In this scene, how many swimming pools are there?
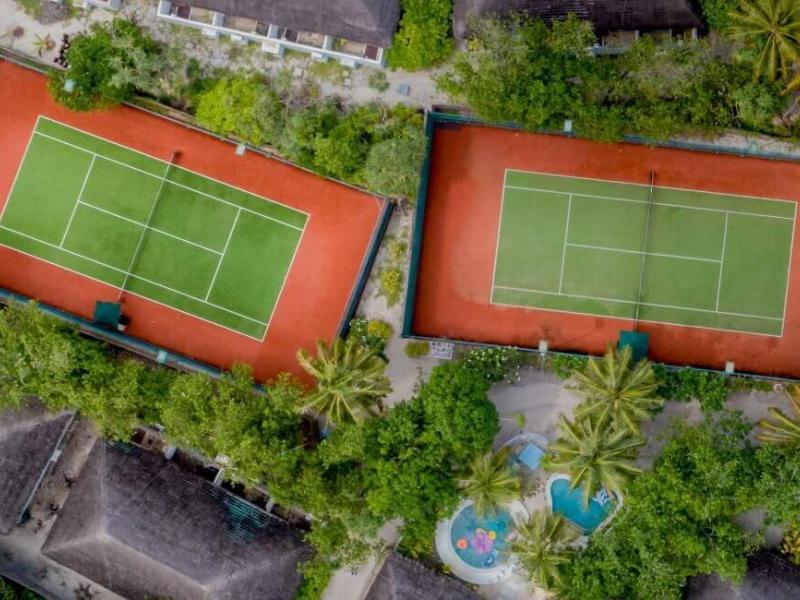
2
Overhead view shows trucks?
No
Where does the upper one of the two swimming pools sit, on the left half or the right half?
right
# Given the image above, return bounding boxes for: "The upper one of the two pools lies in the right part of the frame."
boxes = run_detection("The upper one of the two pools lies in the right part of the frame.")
[544,473,617,534]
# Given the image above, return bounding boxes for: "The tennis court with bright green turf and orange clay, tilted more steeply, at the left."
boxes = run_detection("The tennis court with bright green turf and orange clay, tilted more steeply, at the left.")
[0,55,388,402]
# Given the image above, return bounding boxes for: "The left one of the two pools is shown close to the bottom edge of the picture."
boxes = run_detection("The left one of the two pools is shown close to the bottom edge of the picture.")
[434,487,540,584]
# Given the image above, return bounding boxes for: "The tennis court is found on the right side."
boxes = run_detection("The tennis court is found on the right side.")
[412,119,800,380]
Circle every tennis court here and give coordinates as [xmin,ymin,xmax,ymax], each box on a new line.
[0,55,388,402]
[412,119,800,380]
